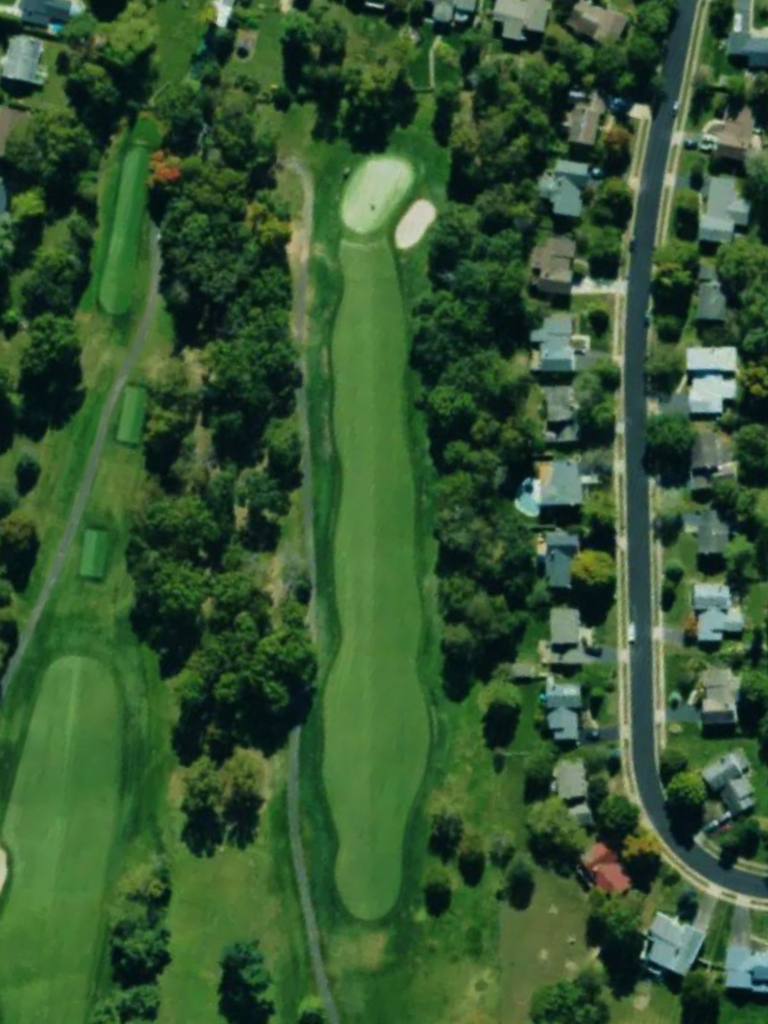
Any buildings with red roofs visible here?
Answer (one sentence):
Yes, there is a building with a red roof in the image.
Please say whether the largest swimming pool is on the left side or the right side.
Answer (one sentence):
The largest swimming pool sits on the right side.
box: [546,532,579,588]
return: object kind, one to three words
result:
house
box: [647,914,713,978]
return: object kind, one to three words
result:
house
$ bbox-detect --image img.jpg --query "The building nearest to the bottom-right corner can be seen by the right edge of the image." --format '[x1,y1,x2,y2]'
[725,946,768,993]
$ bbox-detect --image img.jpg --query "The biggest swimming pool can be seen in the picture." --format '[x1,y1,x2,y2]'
[514,475,541,519]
